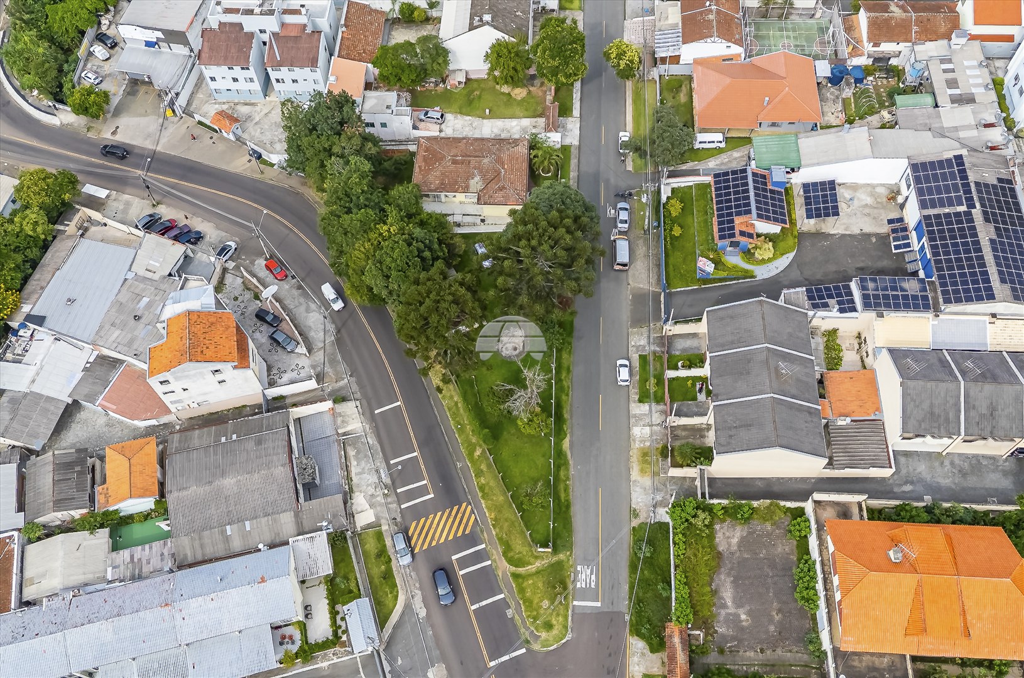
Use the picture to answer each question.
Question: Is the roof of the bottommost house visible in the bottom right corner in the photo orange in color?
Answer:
Yes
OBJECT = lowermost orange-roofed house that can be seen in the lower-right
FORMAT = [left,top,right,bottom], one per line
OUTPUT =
[826,520,1024,663]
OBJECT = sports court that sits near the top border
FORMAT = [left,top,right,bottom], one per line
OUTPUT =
[741,19,838,60]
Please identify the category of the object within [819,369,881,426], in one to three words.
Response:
building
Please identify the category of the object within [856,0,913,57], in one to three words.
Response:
house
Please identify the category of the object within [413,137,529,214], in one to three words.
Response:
house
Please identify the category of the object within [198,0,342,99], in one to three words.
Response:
building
